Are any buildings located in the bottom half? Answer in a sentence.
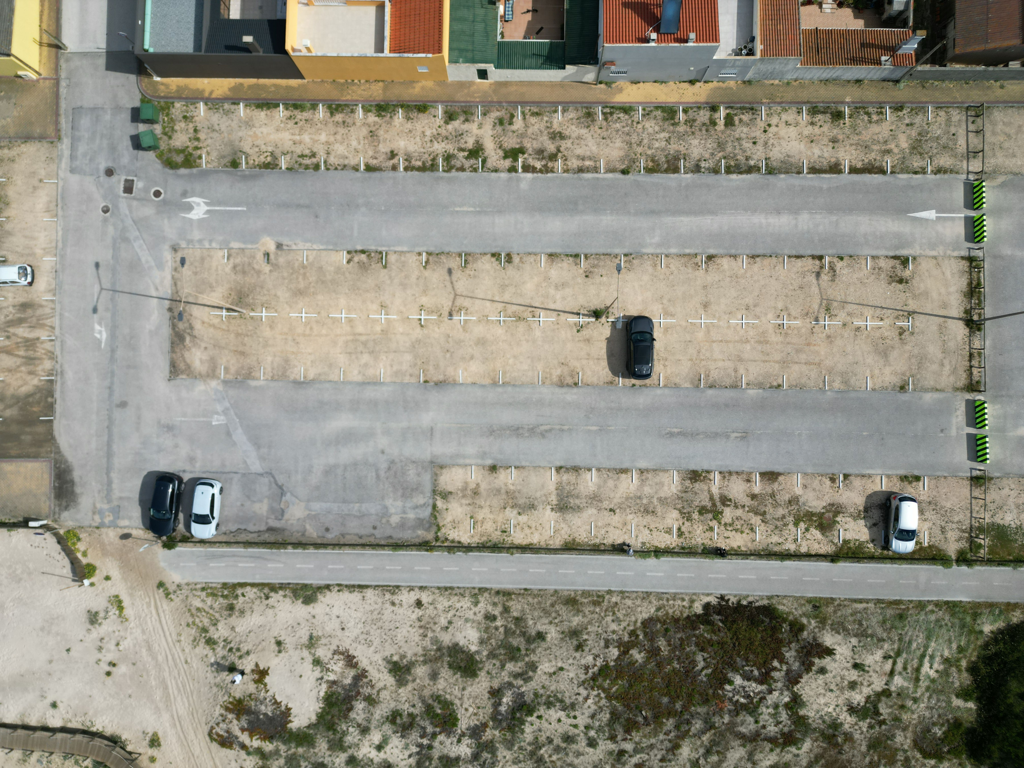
No, there is no building in the bottom half.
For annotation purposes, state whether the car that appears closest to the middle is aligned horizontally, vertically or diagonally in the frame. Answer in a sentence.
What the image shows is the car that appears closest to the middle lying vertically.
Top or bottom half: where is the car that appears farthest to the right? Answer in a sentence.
The car that appears farthest to the right is in the bottom half of the image.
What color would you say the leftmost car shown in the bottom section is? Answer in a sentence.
In this view, the leftmost car shown in the bottom section is black.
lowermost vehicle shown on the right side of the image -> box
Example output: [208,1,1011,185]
[885,492,922,553]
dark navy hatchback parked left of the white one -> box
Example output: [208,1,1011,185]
[147,473,186,536]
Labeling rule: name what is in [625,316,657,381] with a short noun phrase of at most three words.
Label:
car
